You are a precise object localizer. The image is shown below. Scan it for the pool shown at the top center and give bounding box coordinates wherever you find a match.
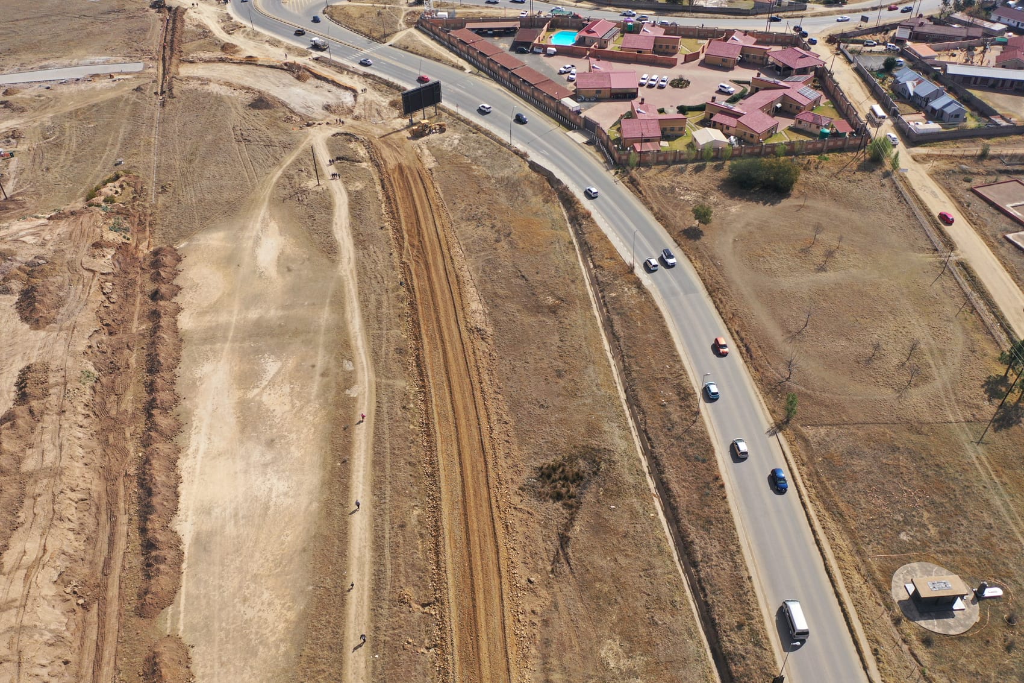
[547,30,582,47]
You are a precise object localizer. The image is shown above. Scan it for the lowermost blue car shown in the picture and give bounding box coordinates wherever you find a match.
[771,468,788,491]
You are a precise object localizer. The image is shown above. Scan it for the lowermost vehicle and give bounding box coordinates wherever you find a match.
[783,601,815,643]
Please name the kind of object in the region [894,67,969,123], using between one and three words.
house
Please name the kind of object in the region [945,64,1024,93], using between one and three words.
building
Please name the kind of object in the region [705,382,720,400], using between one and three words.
car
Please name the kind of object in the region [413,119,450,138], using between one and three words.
work vehicle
